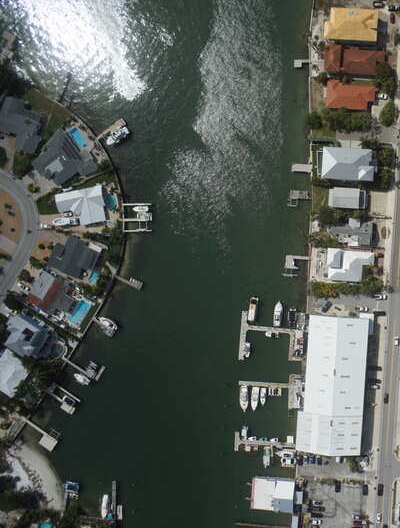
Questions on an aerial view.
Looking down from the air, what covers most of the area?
water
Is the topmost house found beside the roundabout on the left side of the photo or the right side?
left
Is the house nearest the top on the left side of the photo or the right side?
right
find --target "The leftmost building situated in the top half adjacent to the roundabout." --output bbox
[0,95,50,155]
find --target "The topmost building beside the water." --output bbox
[323,7,378,46]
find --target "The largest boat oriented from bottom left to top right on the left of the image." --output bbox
[110,125,133,143]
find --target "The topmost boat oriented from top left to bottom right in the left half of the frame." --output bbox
[100,320,121,336]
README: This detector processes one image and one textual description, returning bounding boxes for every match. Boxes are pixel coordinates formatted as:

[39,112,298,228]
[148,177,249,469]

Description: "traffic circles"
[0,170,41,284]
